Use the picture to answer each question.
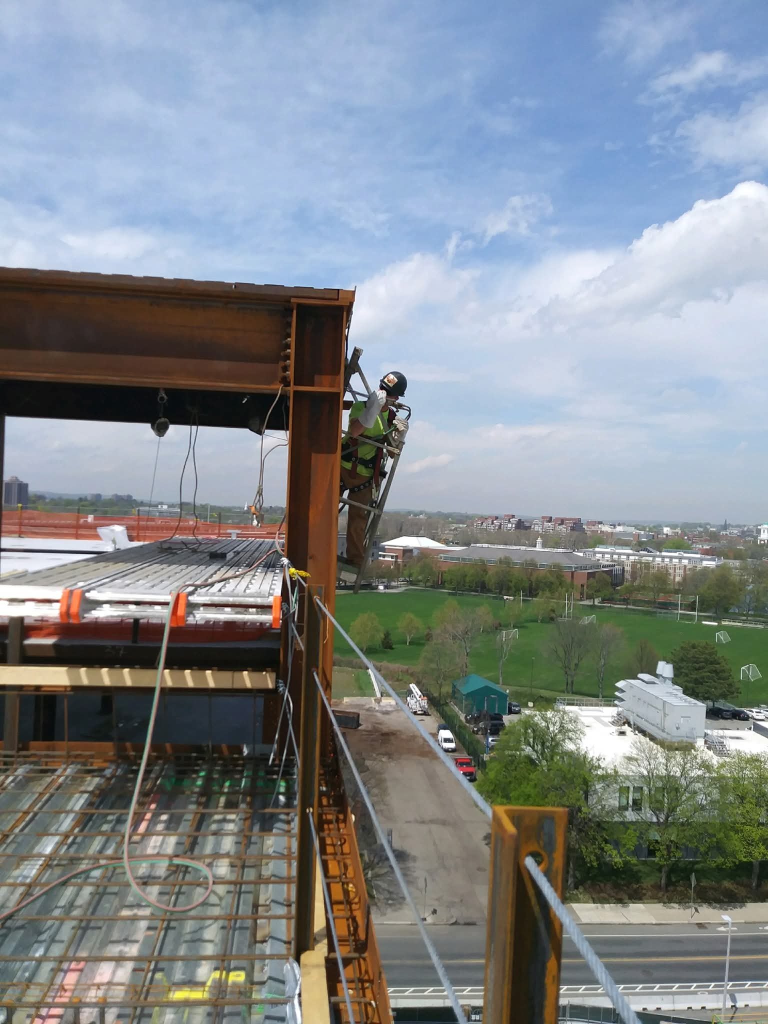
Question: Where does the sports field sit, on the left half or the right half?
right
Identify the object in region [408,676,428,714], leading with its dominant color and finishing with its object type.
white vehicle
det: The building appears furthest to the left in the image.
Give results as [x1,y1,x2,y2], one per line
[7,476,38,511]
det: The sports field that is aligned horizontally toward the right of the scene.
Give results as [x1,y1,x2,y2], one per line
[337,587,768,701]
